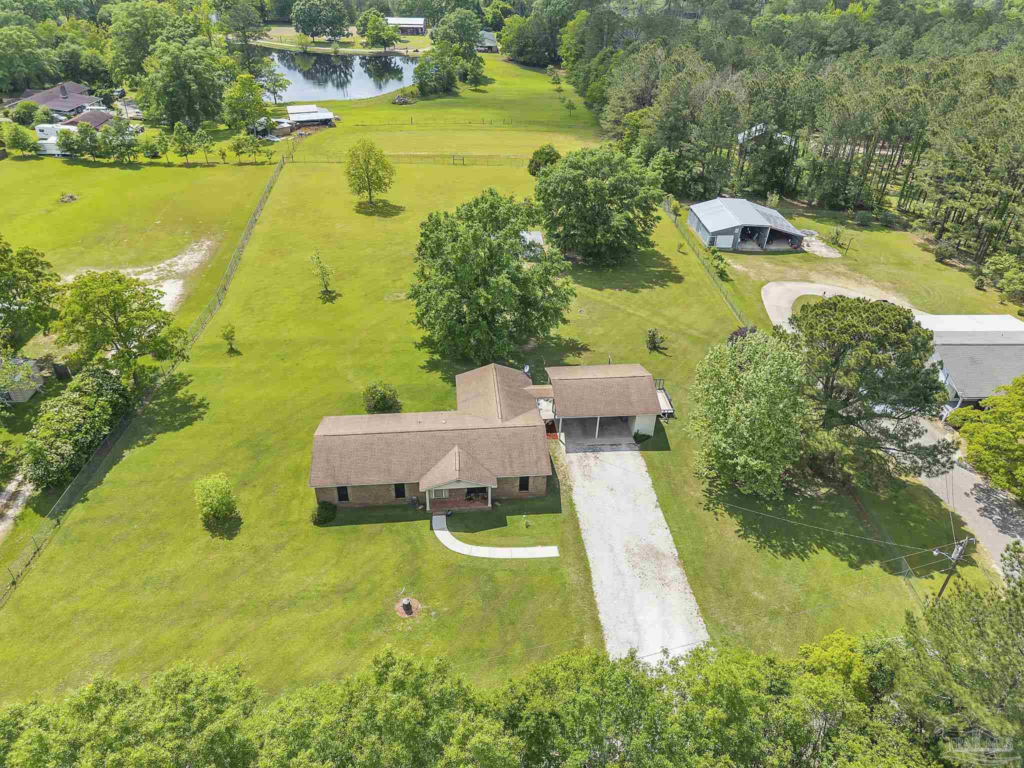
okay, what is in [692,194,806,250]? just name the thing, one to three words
barn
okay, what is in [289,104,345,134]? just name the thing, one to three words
shed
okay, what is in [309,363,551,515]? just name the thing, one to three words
house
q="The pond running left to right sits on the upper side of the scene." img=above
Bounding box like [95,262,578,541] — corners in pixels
[230,42,424,101]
